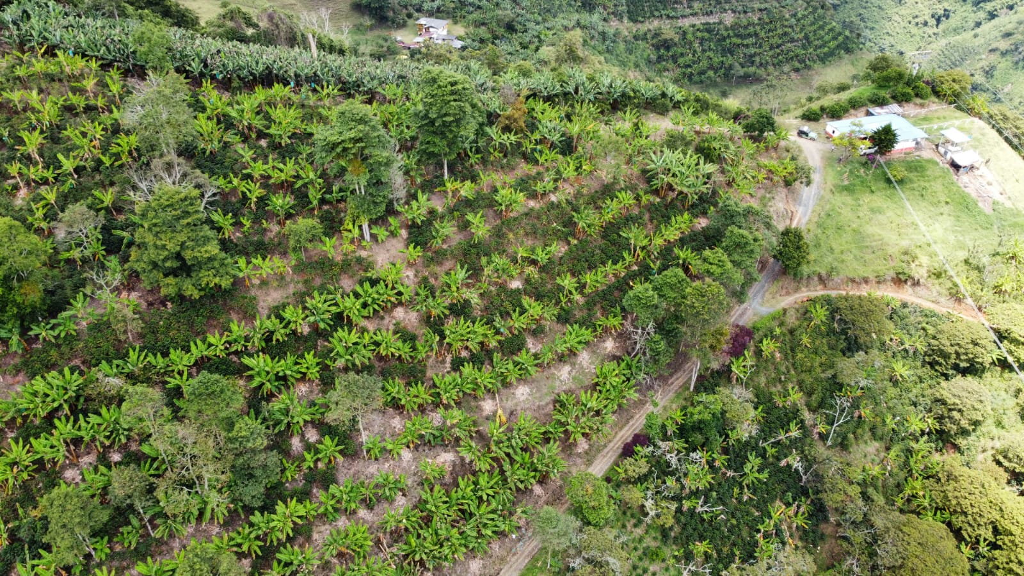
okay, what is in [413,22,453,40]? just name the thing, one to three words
house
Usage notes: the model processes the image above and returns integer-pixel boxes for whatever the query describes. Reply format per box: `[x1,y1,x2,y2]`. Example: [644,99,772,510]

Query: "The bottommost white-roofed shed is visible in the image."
[945,149,989,180]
